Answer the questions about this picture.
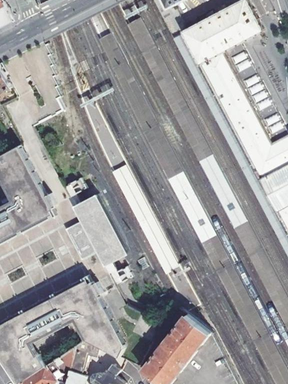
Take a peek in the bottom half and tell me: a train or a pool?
train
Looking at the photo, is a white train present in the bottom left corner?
No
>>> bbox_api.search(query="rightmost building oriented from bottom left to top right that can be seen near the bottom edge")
[140,312,213,384]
